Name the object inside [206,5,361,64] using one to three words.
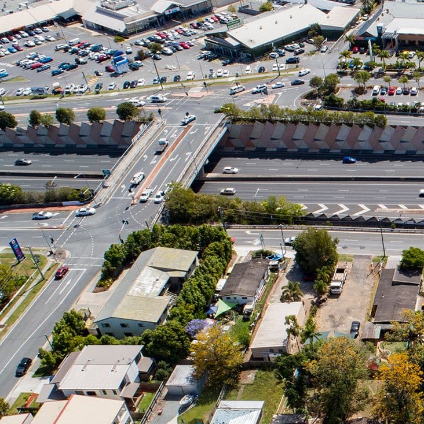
building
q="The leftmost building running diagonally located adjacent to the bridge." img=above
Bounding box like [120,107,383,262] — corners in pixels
[89,248,201,341]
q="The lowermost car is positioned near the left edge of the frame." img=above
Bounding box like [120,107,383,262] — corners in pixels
[15,354,33,375]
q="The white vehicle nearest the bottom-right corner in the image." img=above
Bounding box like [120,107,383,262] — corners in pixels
[331,266,345,291]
